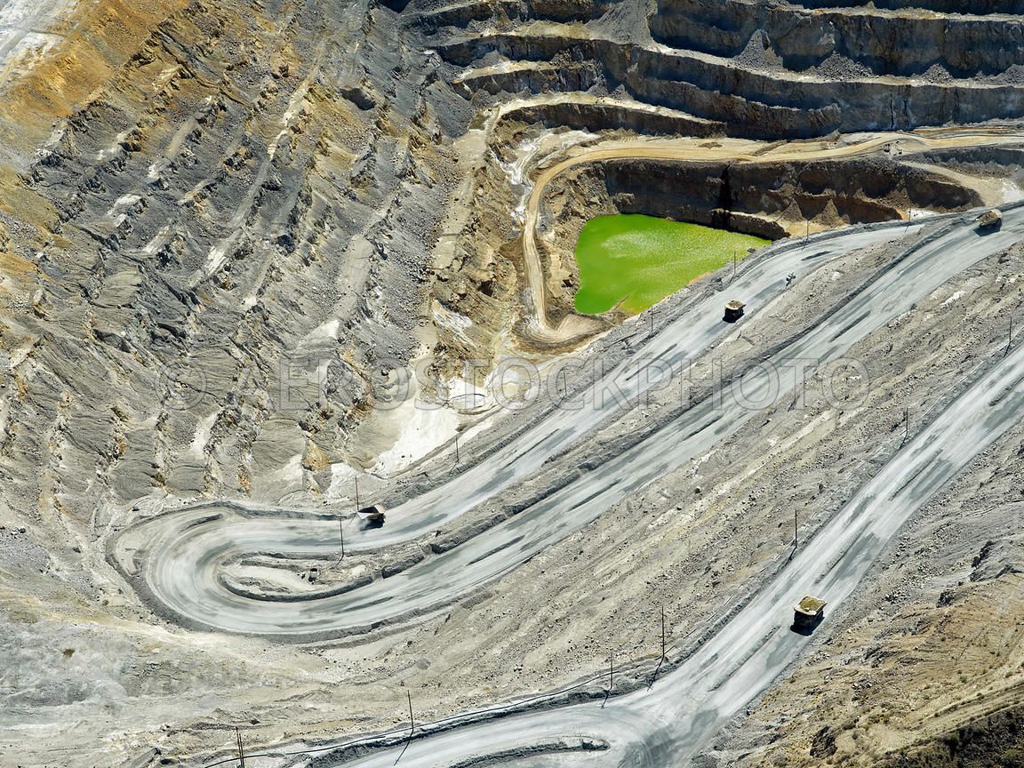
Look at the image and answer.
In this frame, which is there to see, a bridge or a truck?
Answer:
truck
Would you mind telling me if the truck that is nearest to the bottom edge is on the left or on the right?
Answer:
right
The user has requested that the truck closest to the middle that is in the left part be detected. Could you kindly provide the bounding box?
[356,503,387,529]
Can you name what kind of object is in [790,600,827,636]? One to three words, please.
truck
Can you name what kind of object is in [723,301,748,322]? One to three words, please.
truck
